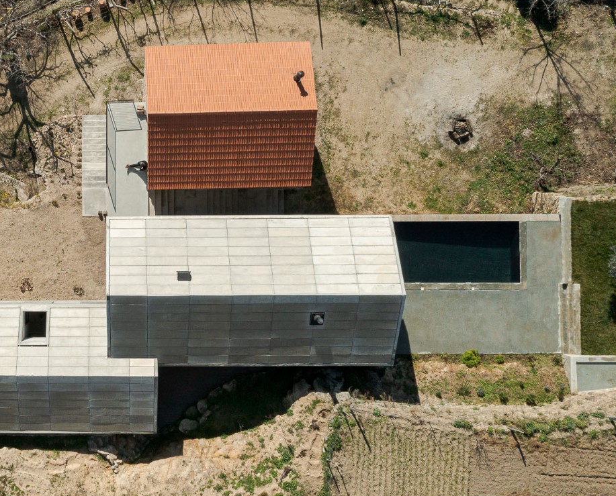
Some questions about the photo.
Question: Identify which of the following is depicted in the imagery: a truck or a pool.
pool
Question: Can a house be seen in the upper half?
Yes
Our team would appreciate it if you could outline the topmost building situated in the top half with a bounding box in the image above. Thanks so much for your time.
[145,39,318,192]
